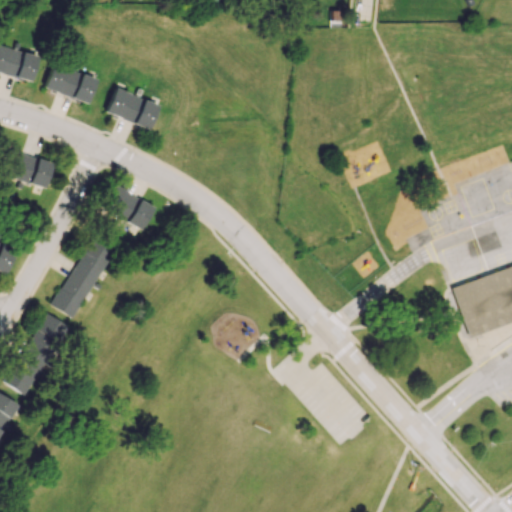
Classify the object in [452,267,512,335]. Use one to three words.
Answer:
building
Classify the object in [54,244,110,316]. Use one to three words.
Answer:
house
